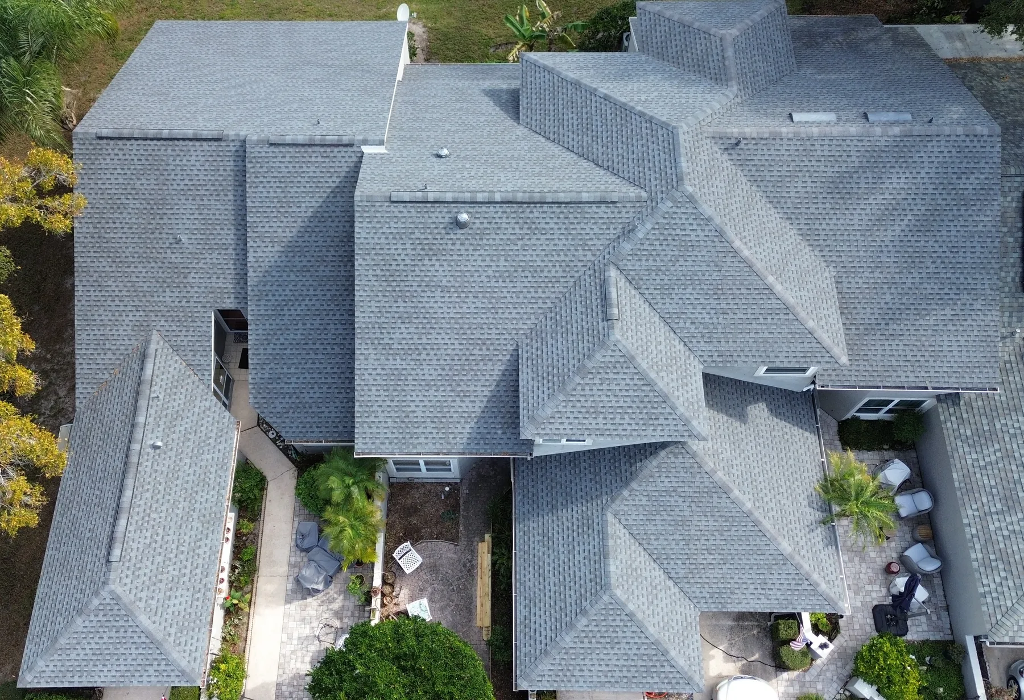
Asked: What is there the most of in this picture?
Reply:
buildings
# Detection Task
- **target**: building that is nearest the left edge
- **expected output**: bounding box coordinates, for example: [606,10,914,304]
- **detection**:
[18,21,411,687]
